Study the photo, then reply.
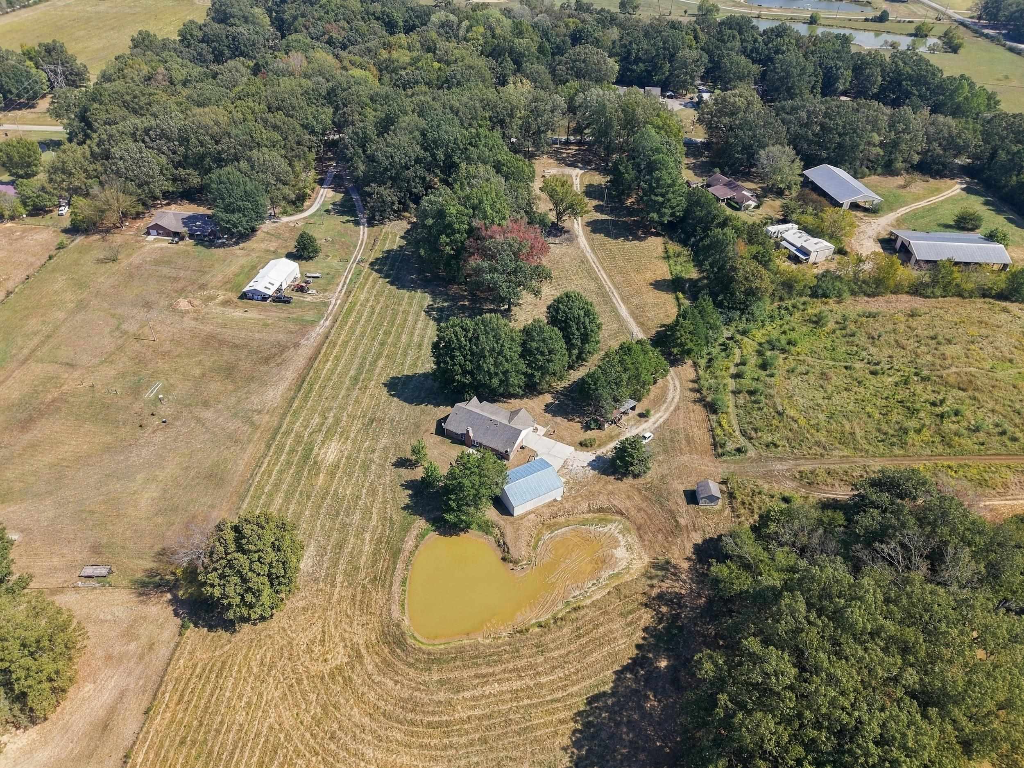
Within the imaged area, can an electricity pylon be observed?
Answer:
Yes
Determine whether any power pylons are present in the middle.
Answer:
No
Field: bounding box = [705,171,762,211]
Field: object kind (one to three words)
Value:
house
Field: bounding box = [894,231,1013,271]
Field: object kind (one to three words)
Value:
barn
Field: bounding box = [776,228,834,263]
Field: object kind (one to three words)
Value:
shed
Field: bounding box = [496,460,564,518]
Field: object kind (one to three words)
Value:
building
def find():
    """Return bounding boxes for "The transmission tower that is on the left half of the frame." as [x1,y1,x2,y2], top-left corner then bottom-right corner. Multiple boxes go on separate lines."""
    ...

[33,50,65,90]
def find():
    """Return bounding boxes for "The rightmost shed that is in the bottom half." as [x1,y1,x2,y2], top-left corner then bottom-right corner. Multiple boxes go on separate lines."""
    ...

[696,480,721,505]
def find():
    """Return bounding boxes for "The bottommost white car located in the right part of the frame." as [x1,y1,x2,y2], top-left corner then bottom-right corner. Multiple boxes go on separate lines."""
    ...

[640,431,656,445]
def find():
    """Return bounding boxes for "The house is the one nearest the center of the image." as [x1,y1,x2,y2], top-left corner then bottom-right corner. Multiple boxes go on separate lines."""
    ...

[443,394,540,460]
